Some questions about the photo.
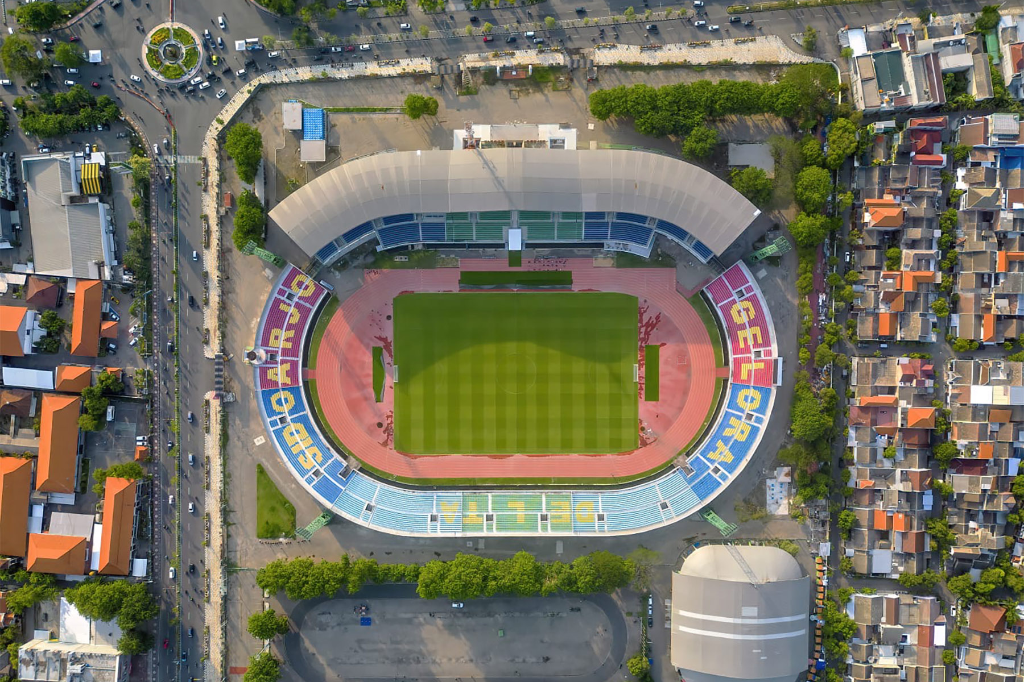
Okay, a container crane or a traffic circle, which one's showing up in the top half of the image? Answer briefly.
traffic circle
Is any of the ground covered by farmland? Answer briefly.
No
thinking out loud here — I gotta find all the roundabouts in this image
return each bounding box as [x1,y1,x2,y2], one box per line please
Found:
[142,22,203,83]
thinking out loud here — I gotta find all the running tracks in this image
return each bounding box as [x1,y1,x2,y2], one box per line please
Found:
[309,259,722,478]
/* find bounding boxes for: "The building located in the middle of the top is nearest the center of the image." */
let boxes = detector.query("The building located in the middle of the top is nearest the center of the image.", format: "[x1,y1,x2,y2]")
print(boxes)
[453,124,576,150]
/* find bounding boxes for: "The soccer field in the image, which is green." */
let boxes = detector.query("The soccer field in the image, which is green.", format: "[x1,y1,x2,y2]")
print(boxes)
[394,292,638,454]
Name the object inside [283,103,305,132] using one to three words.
shed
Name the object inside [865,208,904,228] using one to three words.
house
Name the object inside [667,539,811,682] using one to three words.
building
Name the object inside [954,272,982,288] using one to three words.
house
